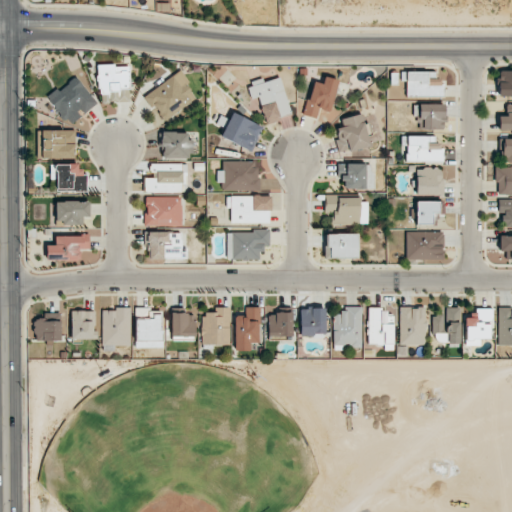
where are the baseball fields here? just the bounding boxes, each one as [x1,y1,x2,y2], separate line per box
[39,364,318,512]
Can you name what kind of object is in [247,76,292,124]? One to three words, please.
house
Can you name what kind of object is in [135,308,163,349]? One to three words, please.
house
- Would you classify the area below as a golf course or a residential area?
residential area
